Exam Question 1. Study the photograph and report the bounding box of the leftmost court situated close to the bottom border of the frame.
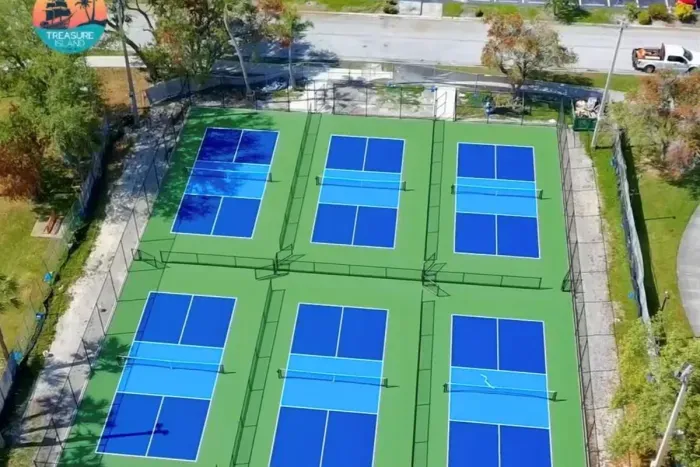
[95,292,237,460]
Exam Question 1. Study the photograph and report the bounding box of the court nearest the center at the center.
[311,134,405,248]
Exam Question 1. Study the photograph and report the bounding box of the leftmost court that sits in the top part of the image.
[171,126,279,239]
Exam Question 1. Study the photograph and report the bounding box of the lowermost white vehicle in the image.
[631,40,700,75]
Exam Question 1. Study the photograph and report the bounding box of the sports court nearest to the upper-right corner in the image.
[455,142,539,258]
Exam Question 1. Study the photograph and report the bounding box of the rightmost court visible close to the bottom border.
[448,315,552,467]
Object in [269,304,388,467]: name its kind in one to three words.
sports court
